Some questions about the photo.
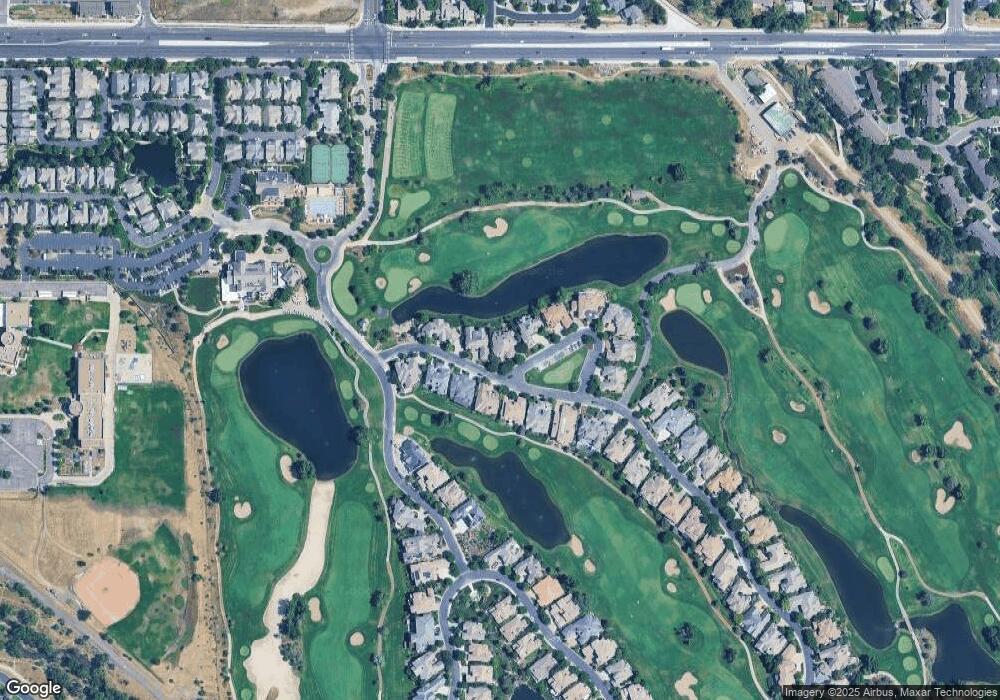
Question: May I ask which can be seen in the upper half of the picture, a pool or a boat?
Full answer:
You can see a pool in the upper half of the picture.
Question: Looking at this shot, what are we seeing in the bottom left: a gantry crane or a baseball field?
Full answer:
Visible in the bottom left is a baseball field.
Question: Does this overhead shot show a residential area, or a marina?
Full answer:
It's a residential area.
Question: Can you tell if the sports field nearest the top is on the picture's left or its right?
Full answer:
It is on the left.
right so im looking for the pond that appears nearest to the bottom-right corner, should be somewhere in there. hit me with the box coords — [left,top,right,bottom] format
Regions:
[909,603,1000,685]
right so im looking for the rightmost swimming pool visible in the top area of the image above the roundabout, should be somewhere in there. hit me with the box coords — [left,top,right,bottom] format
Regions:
[306,185,344,223]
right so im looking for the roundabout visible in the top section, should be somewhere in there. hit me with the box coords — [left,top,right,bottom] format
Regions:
[304,235,342,273]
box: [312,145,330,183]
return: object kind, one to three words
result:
tennis court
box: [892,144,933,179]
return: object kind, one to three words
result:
building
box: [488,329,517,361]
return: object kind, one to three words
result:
house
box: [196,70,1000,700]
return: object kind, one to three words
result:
golf course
